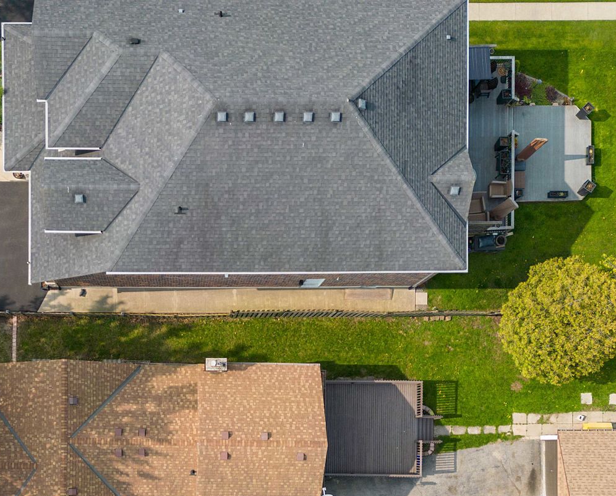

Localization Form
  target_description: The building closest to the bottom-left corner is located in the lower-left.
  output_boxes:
[0,358,334,496]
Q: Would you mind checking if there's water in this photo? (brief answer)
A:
No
